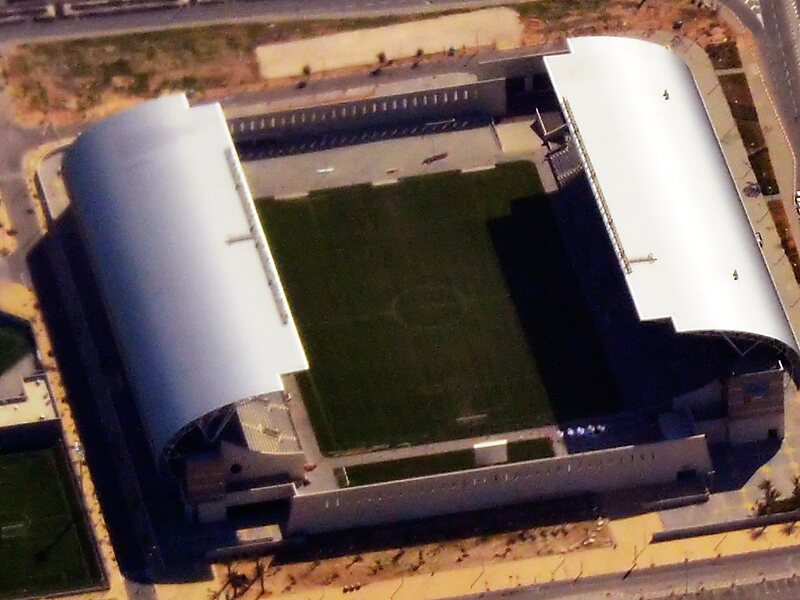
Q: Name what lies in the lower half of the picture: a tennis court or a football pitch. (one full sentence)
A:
What appears in the lower half of the picture is a football pitch.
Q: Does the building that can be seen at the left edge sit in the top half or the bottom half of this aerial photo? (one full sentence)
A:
It is in the bottom half that the building that can be seen at the left edge appears.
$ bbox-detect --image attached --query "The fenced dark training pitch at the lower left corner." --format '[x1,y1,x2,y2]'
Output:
[0,436,96,596]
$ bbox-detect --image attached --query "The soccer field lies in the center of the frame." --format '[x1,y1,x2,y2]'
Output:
[248,160,629,455]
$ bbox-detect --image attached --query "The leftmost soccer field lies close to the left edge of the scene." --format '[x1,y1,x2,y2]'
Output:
[0,320,31,373]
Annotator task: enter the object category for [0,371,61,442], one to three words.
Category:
building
